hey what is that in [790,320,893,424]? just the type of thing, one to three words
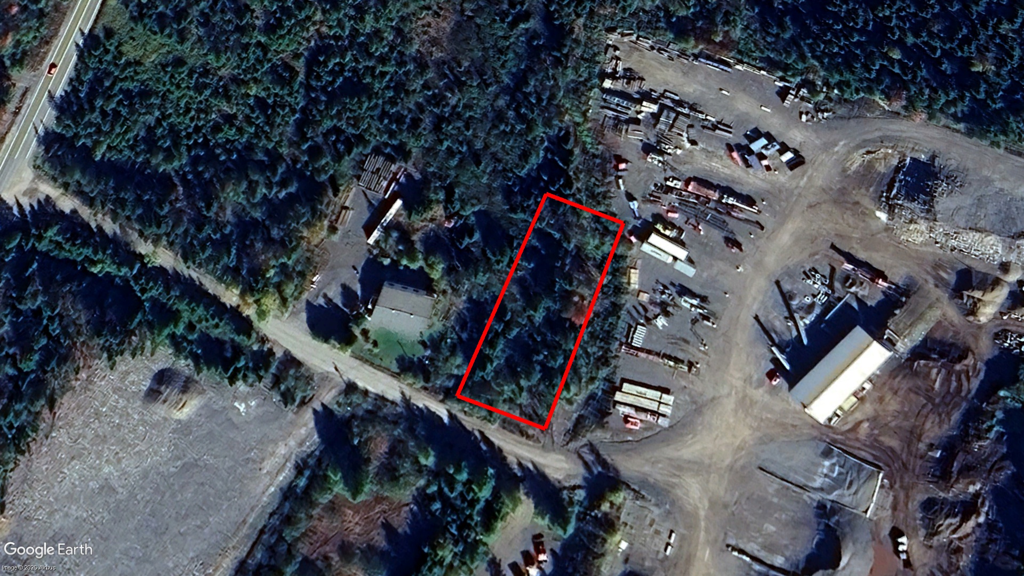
shed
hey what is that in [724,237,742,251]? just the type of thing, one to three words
car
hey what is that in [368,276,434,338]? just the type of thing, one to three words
house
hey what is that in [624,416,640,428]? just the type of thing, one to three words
vehicle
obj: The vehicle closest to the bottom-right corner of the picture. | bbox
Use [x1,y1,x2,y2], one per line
[893,531,909,561]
